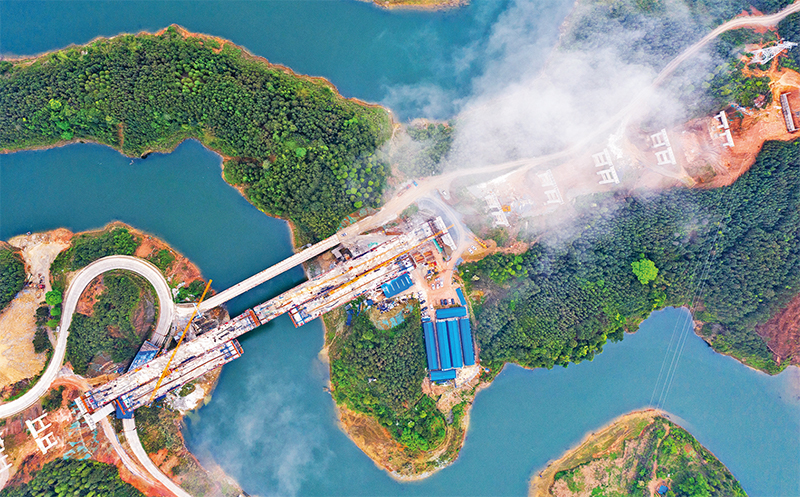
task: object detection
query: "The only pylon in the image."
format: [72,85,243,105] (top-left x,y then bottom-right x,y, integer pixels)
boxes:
[746,37,799,69]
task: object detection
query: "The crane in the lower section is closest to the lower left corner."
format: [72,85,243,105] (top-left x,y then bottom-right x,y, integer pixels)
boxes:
[152,281,213,398]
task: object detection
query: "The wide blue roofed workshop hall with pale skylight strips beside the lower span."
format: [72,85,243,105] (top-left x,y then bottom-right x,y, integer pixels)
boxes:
[381,273,413,298]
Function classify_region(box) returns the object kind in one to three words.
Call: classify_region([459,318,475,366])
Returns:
building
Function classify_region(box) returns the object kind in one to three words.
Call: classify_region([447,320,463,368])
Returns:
building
